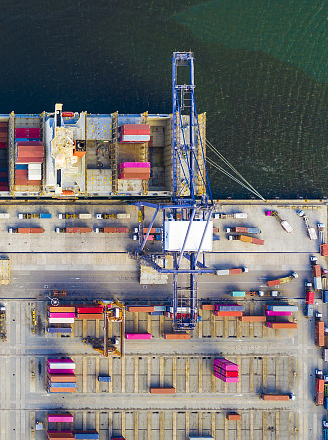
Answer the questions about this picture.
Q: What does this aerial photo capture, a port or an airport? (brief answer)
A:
port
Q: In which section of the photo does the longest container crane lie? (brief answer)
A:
center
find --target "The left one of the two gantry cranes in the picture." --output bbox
[91,299,127,359]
